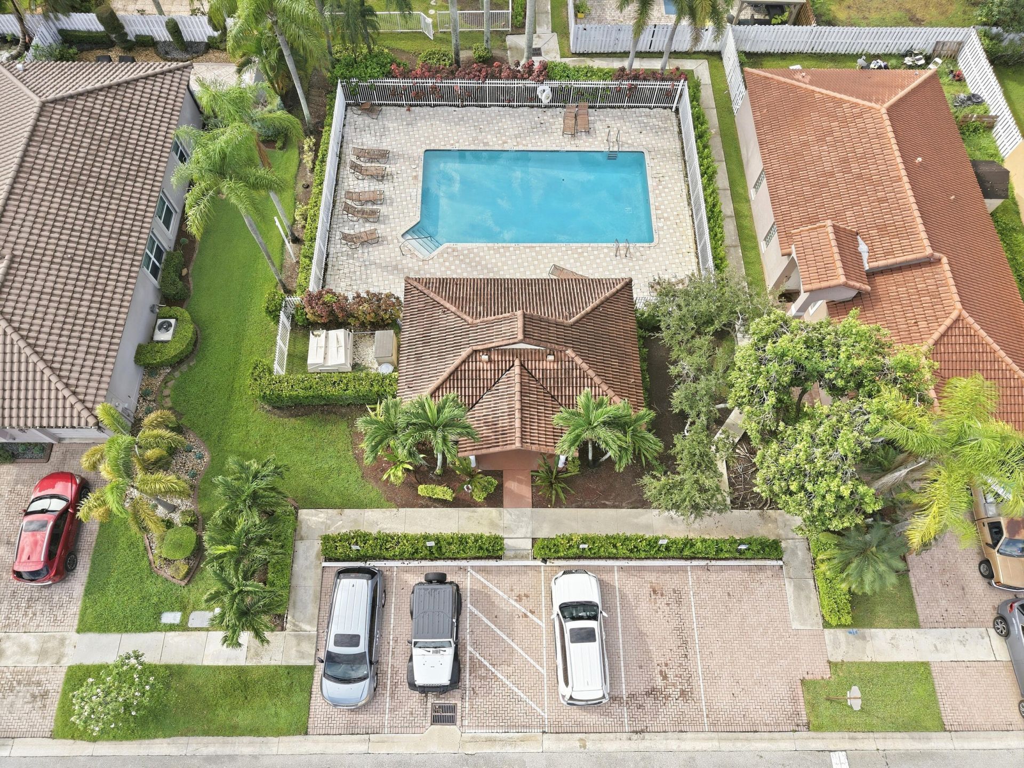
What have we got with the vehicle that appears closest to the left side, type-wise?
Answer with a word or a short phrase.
car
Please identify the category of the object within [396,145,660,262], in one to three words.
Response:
swimming pool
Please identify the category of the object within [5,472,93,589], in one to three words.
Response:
car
